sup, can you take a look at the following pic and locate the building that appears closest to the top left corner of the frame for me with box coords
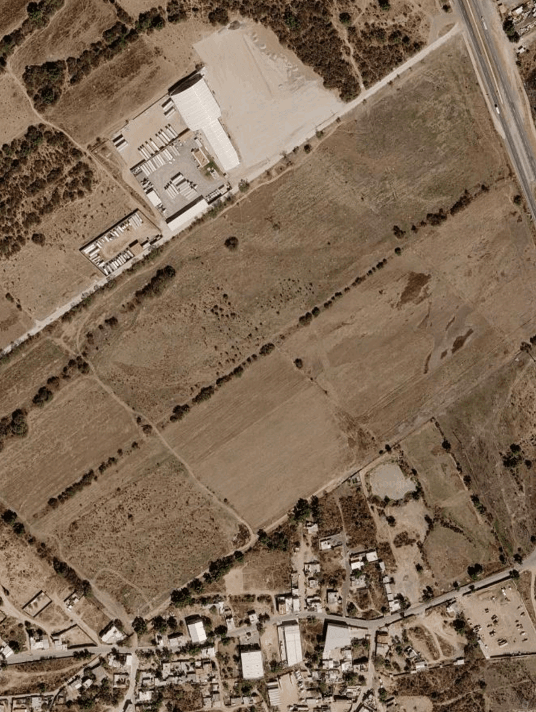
[171,75,220,128]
